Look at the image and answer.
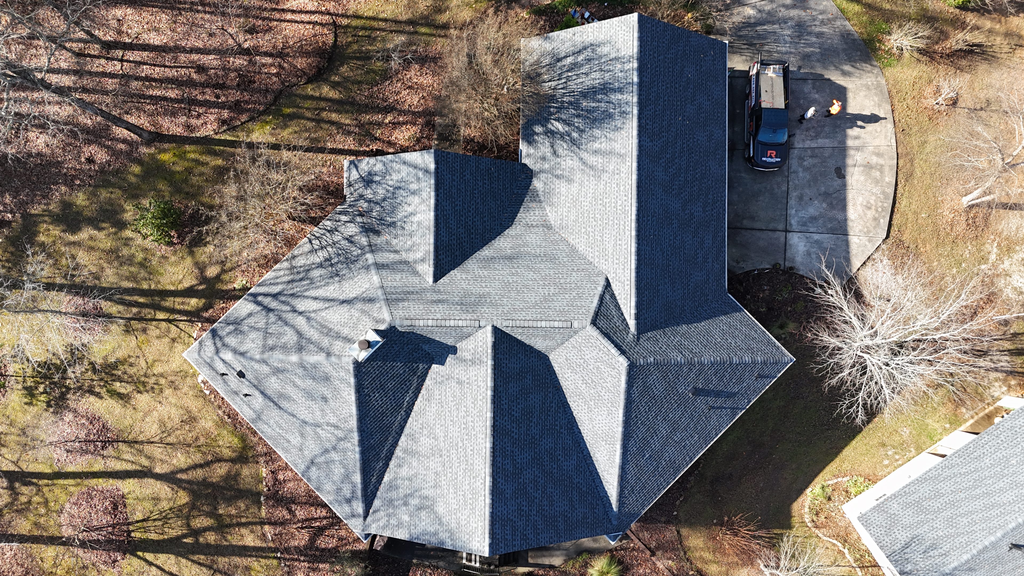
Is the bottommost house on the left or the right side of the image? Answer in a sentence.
You can find the bottommost house on the right side of the picture.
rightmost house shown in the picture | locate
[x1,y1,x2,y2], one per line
[842,396,1024,576]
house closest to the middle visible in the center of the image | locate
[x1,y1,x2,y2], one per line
[183,14,796,554]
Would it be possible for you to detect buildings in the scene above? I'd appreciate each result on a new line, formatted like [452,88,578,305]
[842,396,1024,576]
[183,14,796,554]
